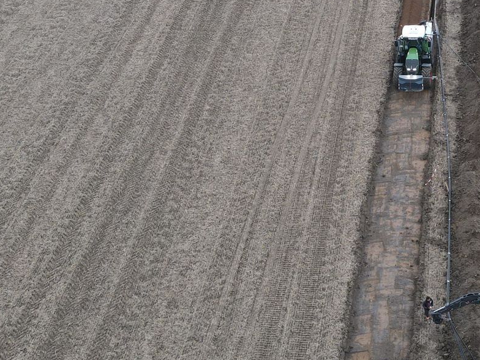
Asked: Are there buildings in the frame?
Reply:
No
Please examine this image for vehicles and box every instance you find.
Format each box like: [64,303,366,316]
[434,289,480,332]
[394,22,449,97]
